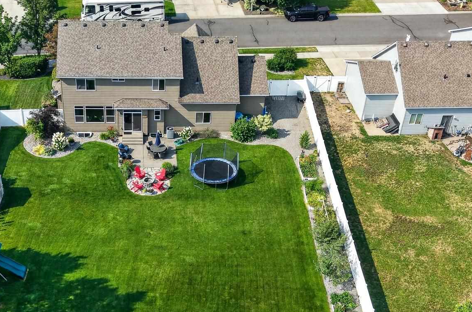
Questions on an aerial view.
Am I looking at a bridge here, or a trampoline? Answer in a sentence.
There is a trampoline in the scene.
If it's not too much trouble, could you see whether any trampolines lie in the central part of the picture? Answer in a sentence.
Yes, a trampoline is visible in the central part of the picture.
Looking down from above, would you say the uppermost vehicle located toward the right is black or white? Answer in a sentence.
The uppermost vehicle located toward the right looks black in the image.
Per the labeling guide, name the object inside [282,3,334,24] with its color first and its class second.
black vehicle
